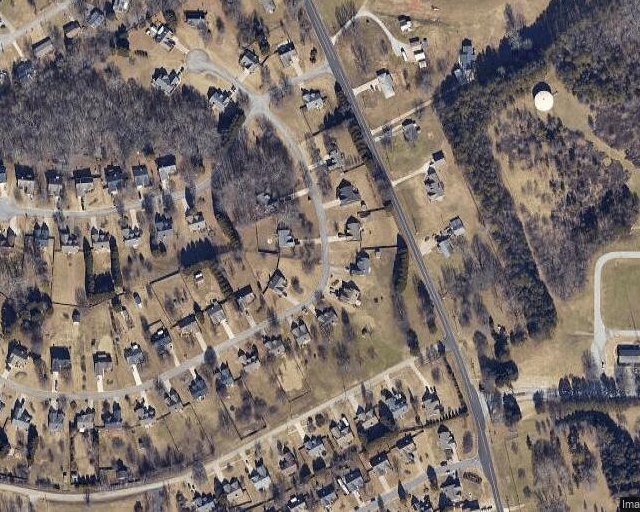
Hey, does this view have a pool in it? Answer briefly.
No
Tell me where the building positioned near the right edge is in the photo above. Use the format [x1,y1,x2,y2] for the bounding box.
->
[619,349,640,363]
